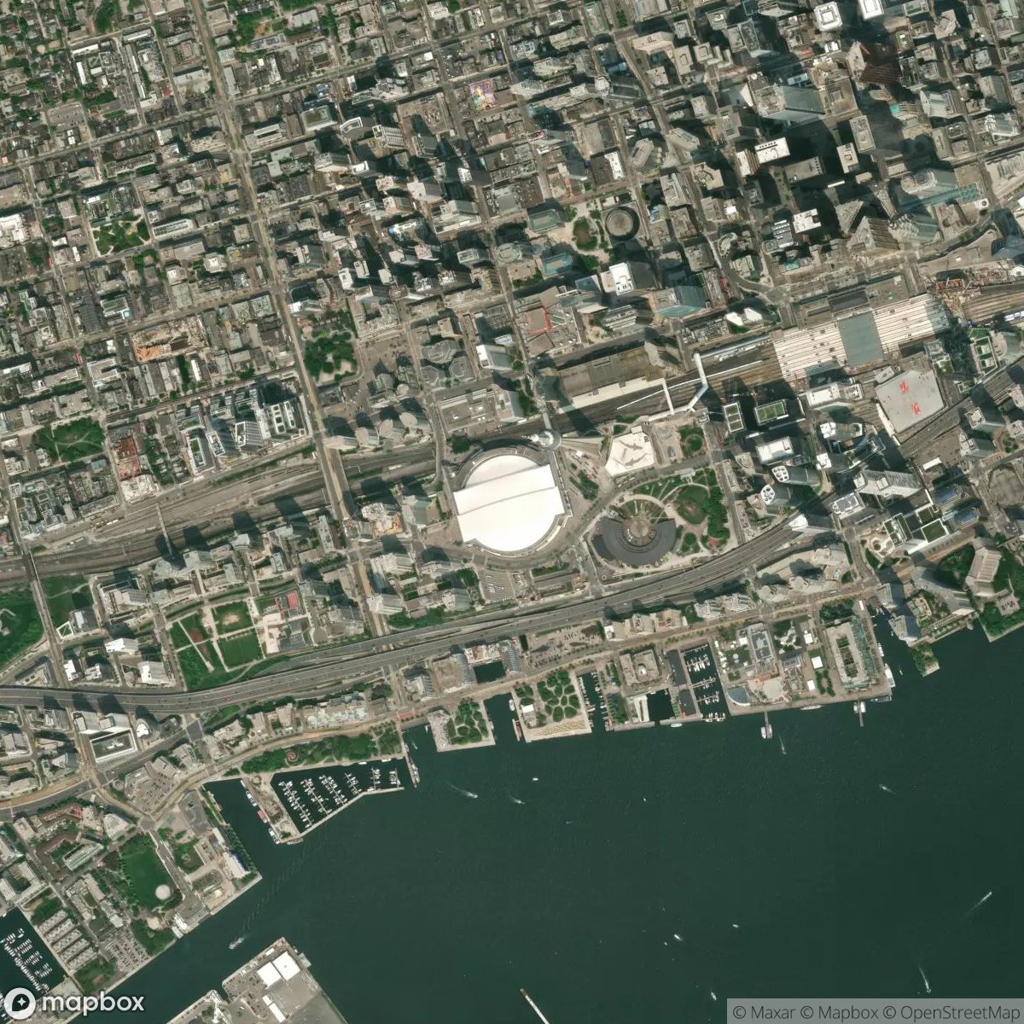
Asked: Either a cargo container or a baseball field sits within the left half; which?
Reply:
baseball field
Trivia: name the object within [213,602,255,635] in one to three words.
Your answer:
baseball field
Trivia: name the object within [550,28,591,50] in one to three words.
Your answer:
building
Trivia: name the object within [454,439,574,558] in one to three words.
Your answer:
stadium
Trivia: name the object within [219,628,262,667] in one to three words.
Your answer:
sports field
